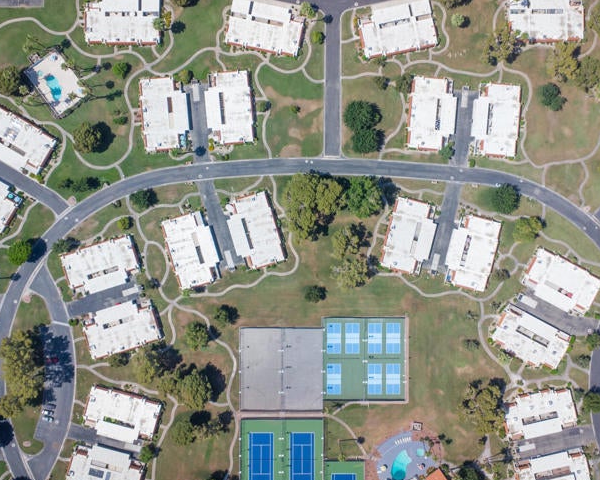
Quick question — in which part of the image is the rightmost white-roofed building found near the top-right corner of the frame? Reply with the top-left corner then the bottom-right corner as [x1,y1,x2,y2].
[505,0,585,45]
